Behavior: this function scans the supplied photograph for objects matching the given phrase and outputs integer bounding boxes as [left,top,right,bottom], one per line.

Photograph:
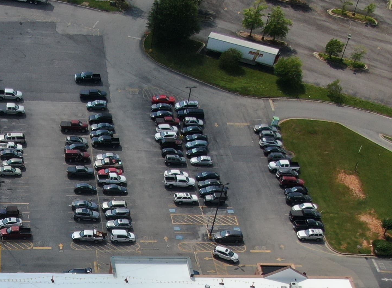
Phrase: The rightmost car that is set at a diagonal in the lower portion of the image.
[212,245,240,266]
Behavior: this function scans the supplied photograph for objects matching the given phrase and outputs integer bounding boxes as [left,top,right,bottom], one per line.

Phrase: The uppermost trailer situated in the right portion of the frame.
[208,34,279,69]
